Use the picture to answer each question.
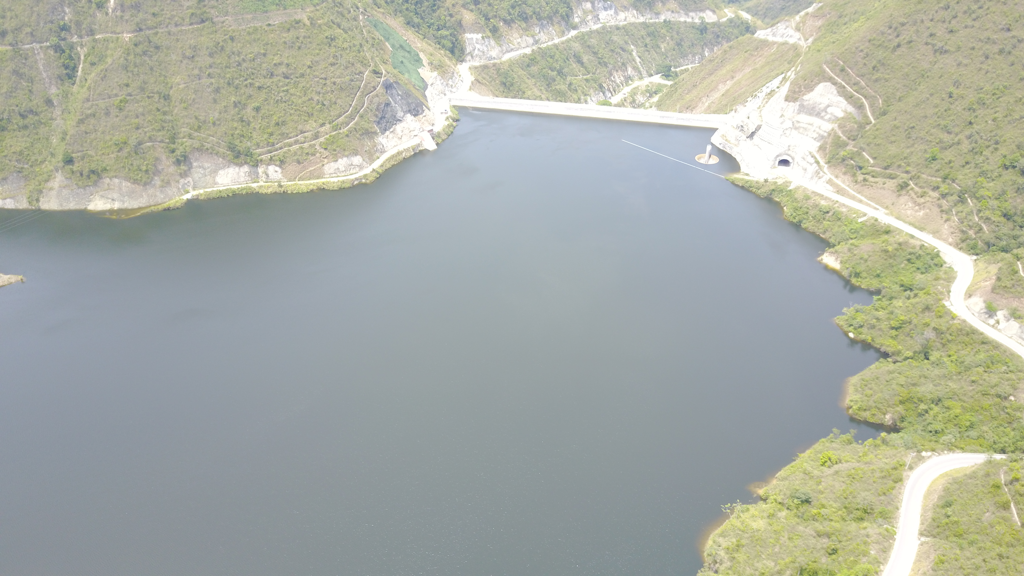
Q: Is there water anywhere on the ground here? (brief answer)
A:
Yes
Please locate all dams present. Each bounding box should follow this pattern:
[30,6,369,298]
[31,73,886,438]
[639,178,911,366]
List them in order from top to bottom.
[461,97,730,129]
